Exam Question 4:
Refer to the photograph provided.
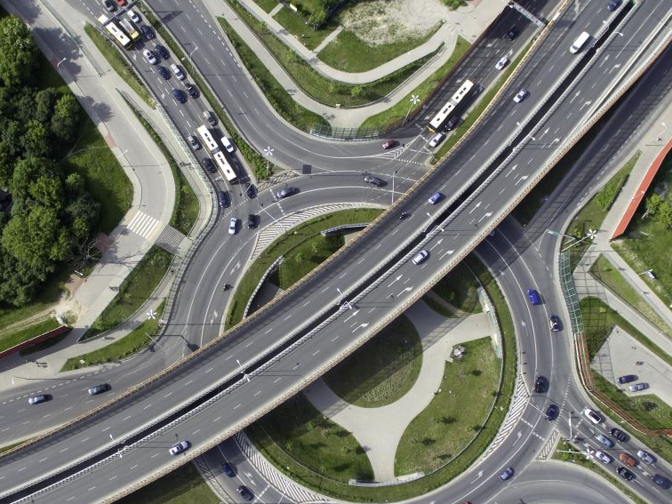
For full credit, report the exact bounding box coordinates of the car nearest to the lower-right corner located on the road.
[653,473,672,490]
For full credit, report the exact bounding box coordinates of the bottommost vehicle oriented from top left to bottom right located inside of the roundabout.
[237,484,252,502]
